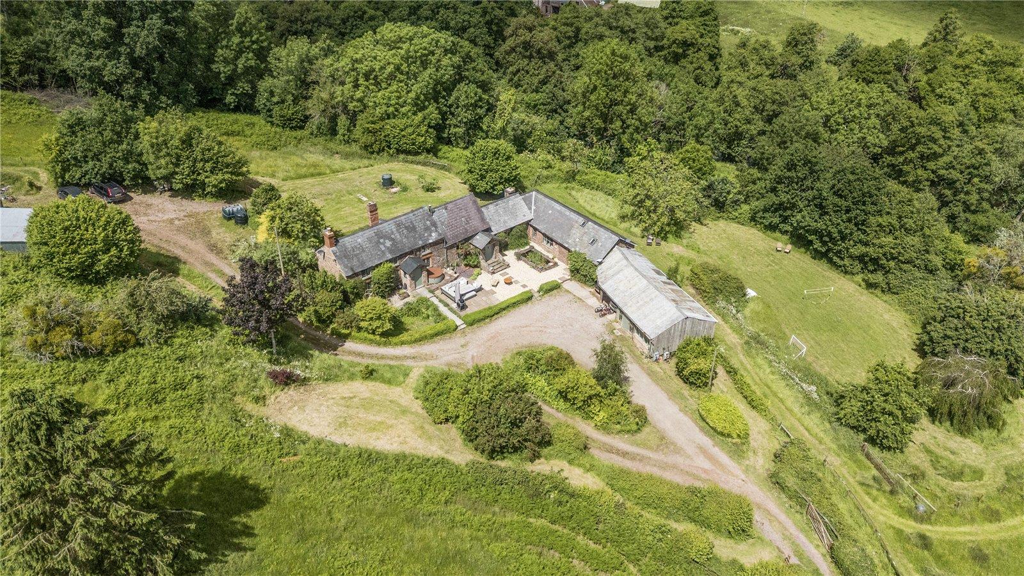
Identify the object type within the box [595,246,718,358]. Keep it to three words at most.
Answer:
barn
